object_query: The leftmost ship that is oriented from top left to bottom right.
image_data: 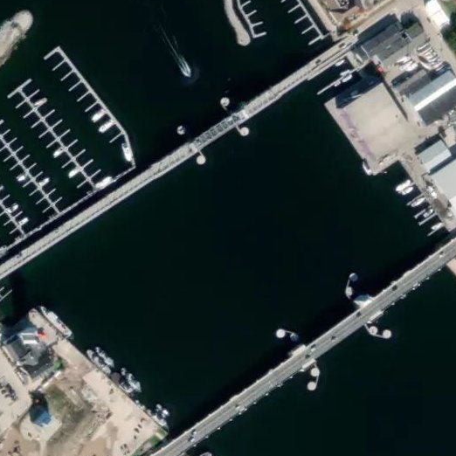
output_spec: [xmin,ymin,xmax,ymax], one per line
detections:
[40,308,73,340]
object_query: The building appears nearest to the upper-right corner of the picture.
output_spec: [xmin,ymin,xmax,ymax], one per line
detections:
[425,0,448,29]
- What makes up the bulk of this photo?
water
